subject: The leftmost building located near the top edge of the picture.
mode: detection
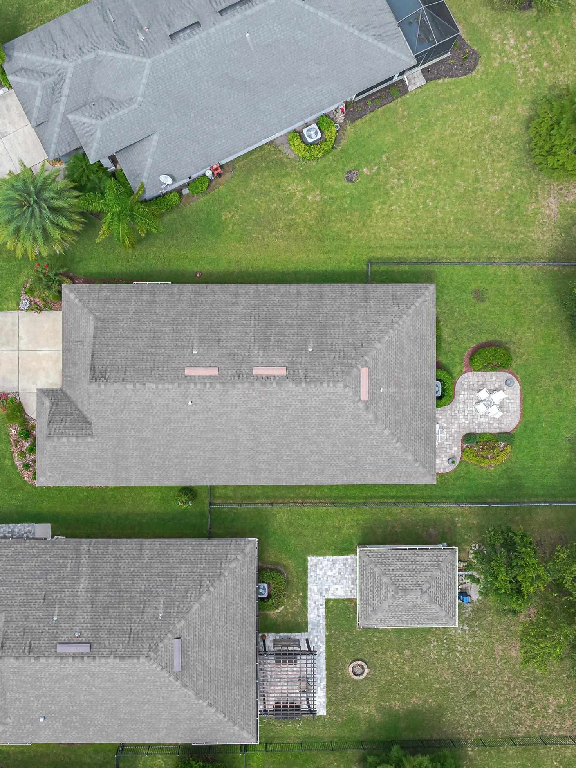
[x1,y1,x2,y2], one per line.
[0,0,418,205]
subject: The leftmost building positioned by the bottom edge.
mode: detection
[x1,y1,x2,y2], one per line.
[0,532,259,746]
